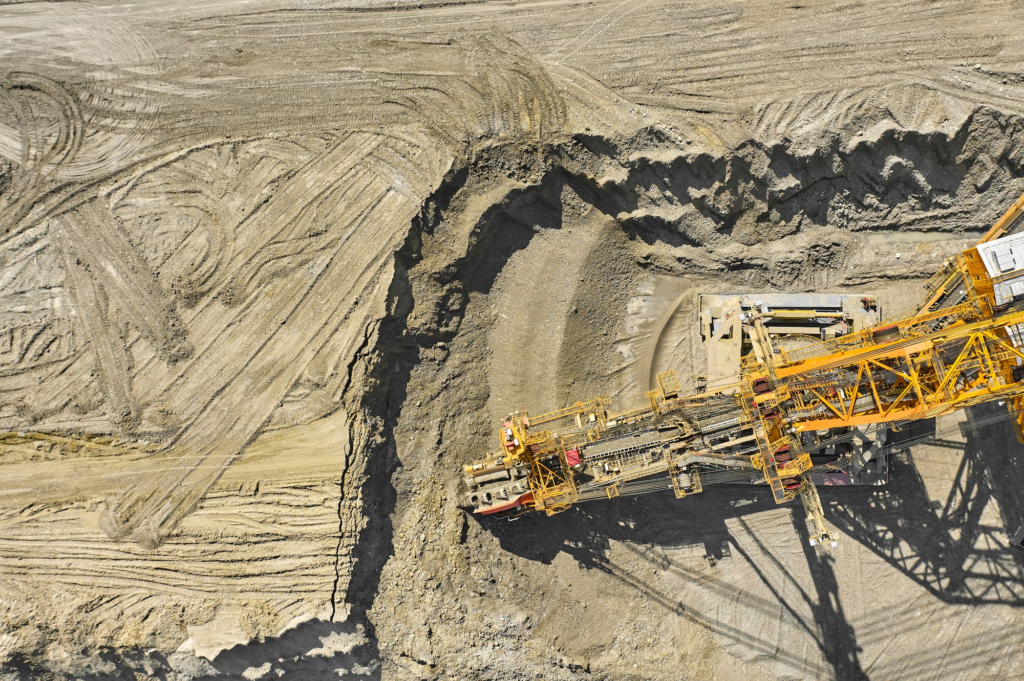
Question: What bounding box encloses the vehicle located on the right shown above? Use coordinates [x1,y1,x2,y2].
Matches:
[462,229,1024,555]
